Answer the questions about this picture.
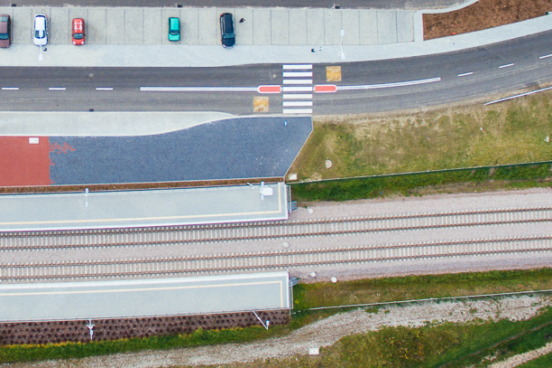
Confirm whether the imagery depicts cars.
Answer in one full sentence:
Yes, I can see a car in this picture.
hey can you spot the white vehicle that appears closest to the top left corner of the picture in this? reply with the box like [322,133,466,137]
[32,14,49,46]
